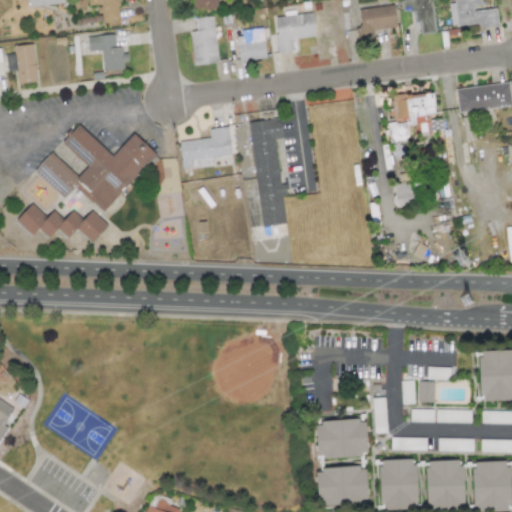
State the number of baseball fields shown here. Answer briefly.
1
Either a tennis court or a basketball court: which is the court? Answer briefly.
basketball court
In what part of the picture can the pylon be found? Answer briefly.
right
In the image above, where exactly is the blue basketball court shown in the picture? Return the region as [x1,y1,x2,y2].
[44,394,118,458]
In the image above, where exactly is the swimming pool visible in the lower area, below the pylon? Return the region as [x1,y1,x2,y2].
[435,380,472,404]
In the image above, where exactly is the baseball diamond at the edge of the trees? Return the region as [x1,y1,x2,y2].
[214,334,278,403]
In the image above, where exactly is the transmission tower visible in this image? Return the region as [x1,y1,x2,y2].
[458,290,477,310]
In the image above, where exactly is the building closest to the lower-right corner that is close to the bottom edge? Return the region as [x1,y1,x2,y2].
[474,460,512,510]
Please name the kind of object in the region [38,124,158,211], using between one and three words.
building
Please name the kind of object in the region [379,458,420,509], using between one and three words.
building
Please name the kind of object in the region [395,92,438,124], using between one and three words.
house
